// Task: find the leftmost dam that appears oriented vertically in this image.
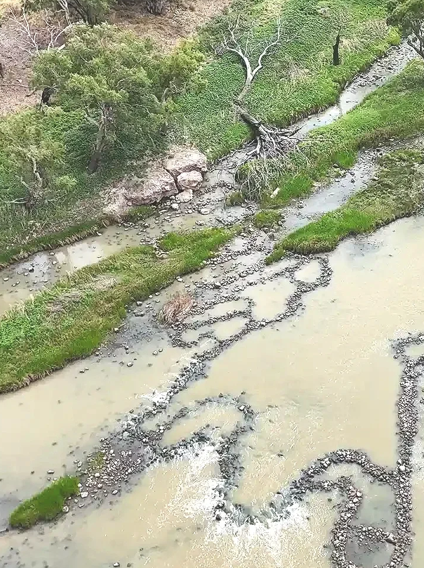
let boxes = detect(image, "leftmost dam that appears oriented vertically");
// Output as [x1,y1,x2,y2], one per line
[213,424,248,498]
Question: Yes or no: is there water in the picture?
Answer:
Yes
